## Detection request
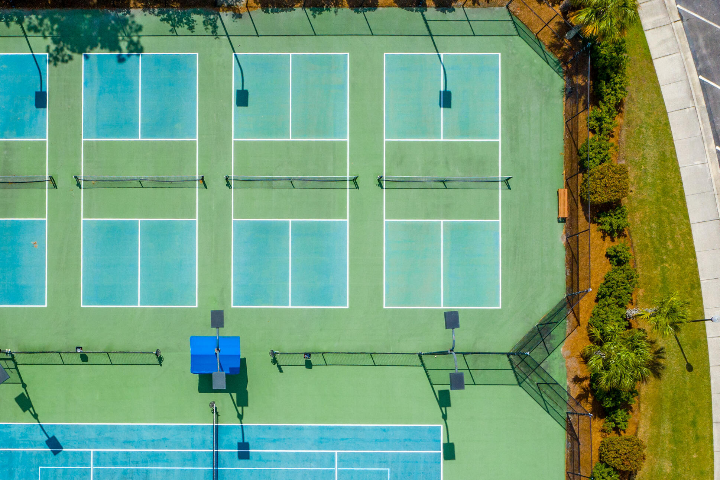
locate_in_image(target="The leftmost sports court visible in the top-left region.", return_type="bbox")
[0,54,47,139]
